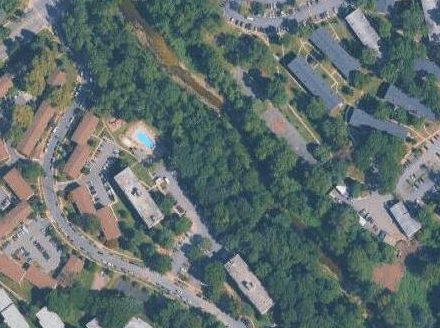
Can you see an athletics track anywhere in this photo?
No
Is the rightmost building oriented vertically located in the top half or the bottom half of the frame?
top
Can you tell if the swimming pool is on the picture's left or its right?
left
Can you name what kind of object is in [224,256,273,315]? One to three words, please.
building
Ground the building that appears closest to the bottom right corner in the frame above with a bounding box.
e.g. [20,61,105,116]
[389,201,421,236]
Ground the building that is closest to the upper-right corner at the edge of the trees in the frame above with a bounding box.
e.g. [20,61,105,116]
[420,0,440,35]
